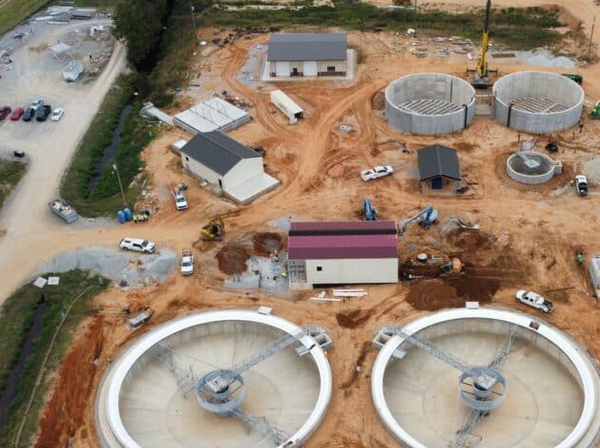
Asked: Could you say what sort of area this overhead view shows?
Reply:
industrial area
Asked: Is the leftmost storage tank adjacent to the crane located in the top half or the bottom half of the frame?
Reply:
top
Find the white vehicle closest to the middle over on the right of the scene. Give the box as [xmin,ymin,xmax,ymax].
[360,164,395,180]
